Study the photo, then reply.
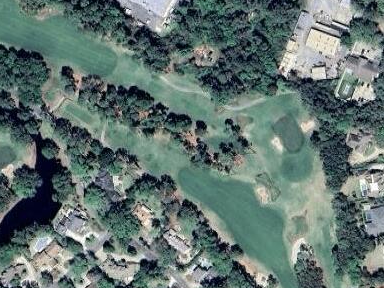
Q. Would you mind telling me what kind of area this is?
golf course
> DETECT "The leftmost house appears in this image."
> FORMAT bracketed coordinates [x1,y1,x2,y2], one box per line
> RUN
[0,262,26,288]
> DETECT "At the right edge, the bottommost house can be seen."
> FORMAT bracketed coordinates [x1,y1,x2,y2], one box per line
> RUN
[361,204,384,236]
